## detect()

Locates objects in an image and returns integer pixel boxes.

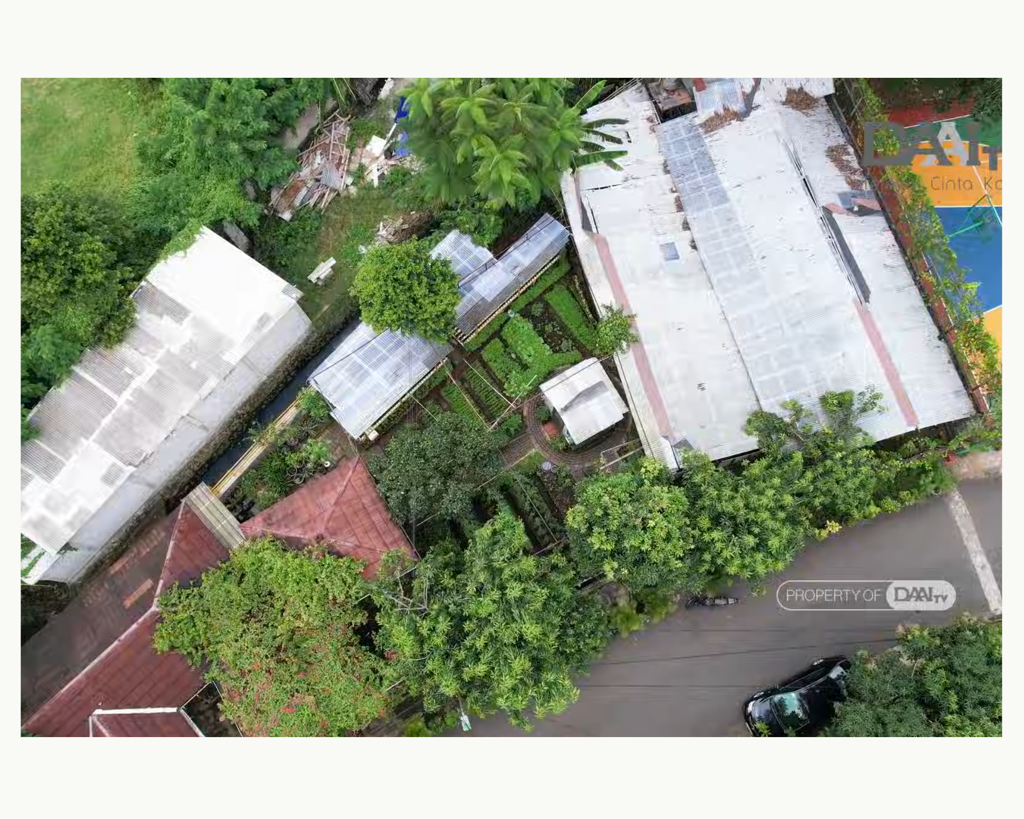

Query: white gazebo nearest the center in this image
[541,358,629,444]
